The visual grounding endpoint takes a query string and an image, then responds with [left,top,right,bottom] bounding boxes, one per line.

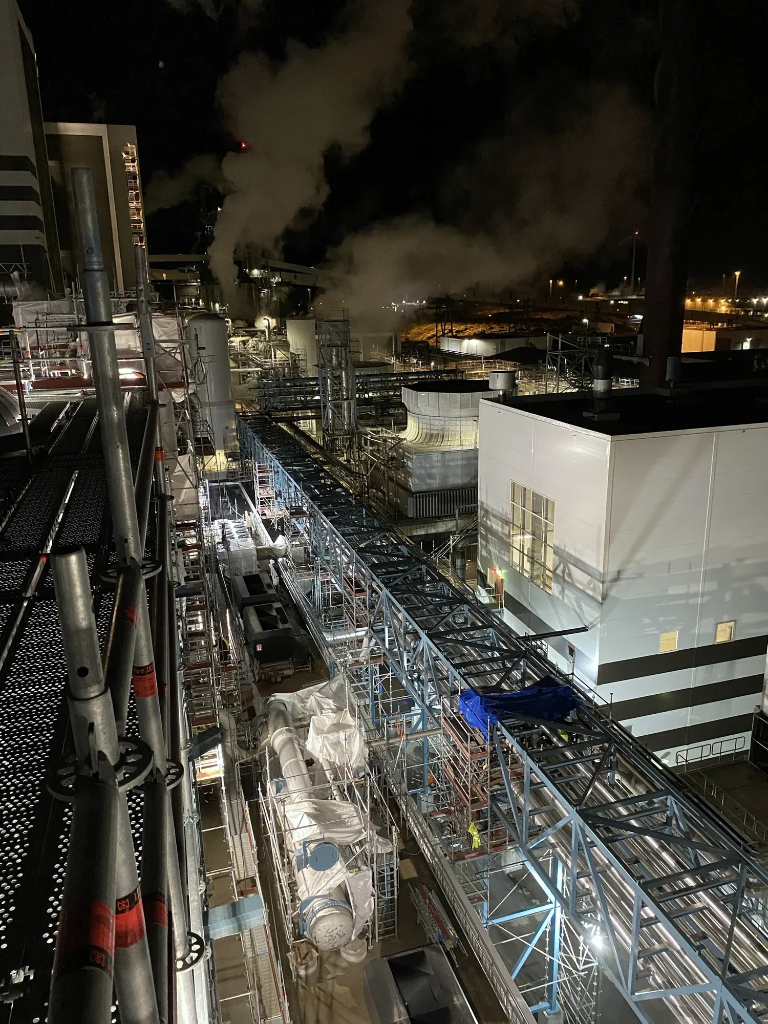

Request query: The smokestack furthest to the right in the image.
[608,0,714,384]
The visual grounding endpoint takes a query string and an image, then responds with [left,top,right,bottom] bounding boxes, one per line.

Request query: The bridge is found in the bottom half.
[275,558,538,1024]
